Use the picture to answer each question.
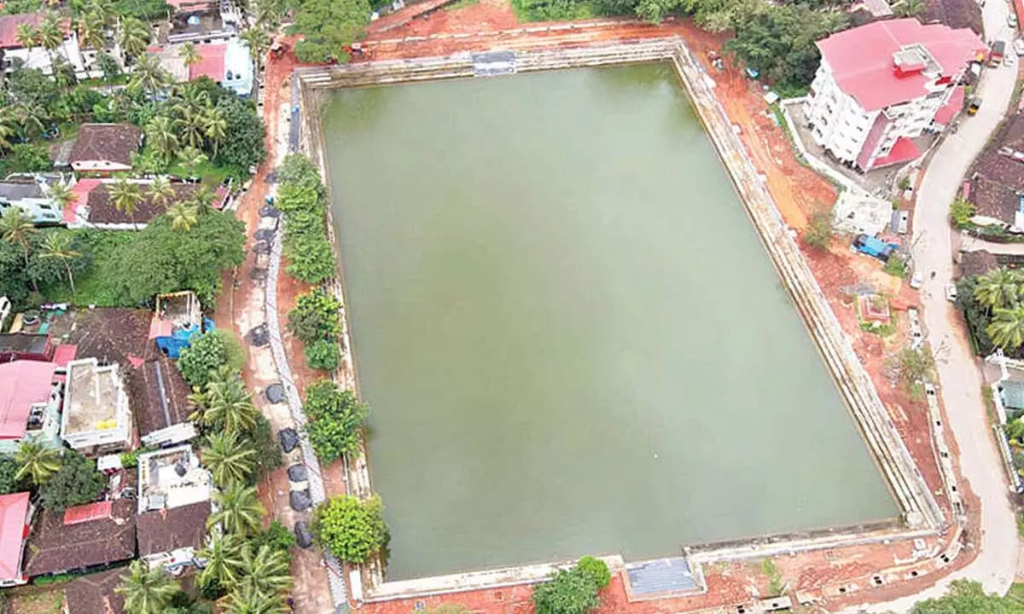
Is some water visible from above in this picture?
Yes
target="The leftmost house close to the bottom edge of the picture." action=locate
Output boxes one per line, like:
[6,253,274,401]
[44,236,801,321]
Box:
[0,493,44,591]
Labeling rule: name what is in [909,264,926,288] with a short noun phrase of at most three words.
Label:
car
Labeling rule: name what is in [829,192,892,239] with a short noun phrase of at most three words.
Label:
building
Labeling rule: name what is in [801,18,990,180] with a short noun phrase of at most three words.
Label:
building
